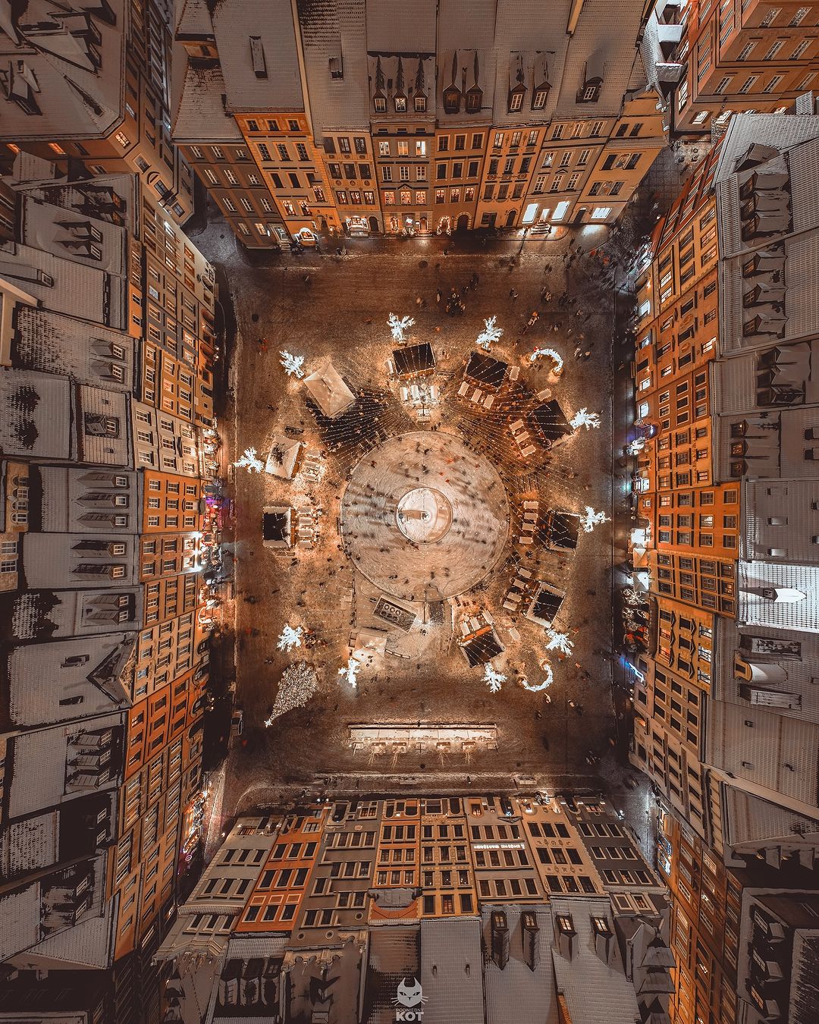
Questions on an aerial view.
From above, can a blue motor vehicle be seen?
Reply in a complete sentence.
No, the scene contains no blue motor vehicle.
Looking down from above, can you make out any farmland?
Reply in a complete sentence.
No, the scene doesn't show any farmland.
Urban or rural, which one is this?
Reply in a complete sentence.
The area shown here is urban.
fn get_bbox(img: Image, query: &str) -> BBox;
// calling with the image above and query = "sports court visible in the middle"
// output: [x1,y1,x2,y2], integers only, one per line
[336,428,513,604]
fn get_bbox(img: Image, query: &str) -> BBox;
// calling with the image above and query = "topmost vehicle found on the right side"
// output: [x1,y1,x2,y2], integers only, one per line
[625,767,647,796]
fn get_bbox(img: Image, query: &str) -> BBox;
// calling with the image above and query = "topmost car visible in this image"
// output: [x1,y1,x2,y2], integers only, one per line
[228,709,244,738]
